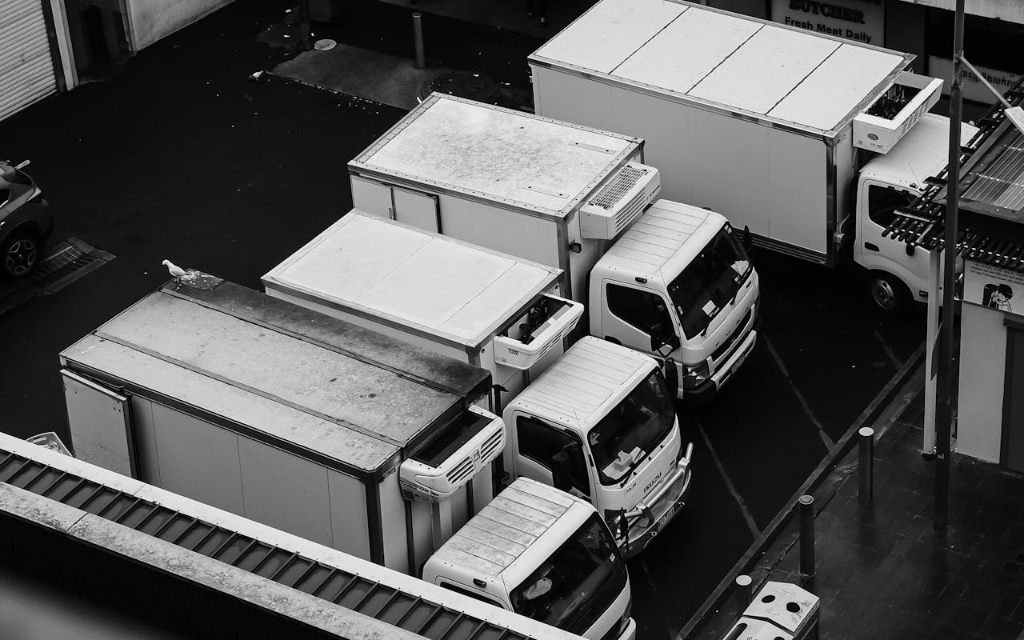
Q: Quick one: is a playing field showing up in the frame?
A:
No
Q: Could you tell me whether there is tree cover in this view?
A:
No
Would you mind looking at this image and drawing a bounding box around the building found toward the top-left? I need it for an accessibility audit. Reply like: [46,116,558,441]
[0,0,229,116]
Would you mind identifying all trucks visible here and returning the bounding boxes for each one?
[526,0,1018,326]
[346,92,769,408]
[259,207,704,567]
[52,266,648,640]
